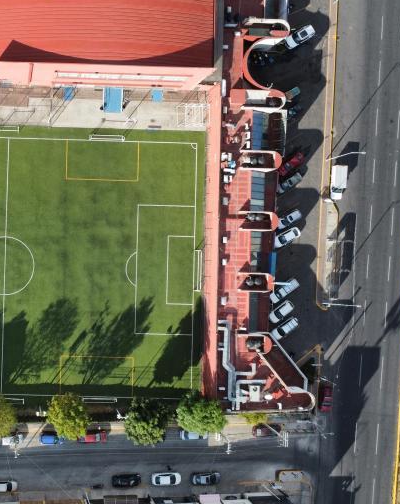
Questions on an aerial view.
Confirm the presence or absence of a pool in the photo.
No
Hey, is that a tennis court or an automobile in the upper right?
automobile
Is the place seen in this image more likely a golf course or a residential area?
residential area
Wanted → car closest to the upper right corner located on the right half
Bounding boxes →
[285,22,318,49]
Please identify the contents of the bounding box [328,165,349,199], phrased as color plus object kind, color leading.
white truck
